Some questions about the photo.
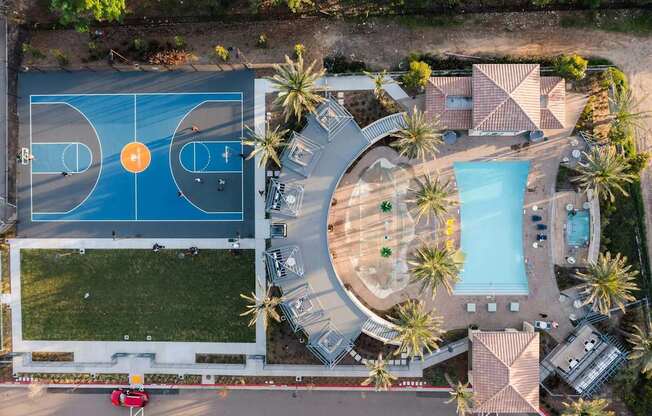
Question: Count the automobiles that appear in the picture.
one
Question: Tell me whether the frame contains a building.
Yes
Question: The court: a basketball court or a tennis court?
basketball court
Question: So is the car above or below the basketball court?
below it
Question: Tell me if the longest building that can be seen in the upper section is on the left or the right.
right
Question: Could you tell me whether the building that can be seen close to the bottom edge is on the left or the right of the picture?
right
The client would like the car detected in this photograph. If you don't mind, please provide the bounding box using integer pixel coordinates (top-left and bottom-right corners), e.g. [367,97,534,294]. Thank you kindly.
[113,389,150,408]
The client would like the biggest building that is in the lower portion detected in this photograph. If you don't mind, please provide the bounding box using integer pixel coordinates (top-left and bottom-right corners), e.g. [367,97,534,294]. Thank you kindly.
[467,327,542,415]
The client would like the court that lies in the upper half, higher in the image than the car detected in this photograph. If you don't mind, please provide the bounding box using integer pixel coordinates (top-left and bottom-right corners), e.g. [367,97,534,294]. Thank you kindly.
[18,72,254,238]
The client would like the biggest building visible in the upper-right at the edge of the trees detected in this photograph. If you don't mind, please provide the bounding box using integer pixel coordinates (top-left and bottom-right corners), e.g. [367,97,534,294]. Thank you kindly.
[424,63,567,138]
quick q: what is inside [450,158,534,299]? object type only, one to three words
swimming pool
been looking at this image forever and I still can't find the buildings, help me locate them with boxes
[424,63,567,138]
[467,327,542,415]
